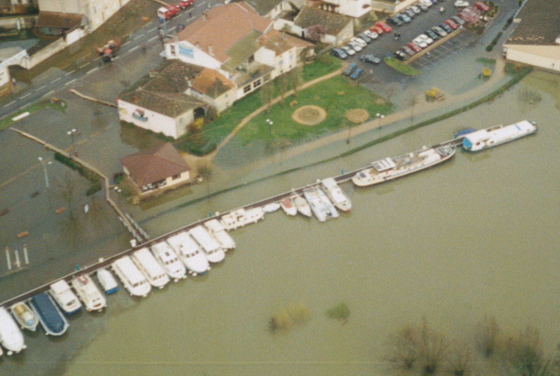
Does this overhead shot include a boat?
Yes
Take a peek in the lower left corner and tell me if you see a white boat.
Yes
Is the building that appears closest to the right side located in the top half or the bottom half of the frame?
top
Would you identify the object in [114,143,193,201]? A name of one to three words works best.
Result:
building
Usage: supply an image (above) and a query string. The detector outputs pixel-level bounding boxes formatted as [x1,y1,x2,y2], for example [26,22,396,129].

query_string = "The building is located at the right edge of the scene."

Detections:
[501,0,560,62]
